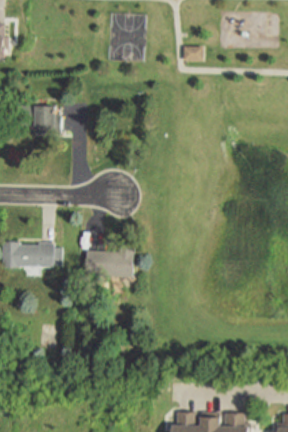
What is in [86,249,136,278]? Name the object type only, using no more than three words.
house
